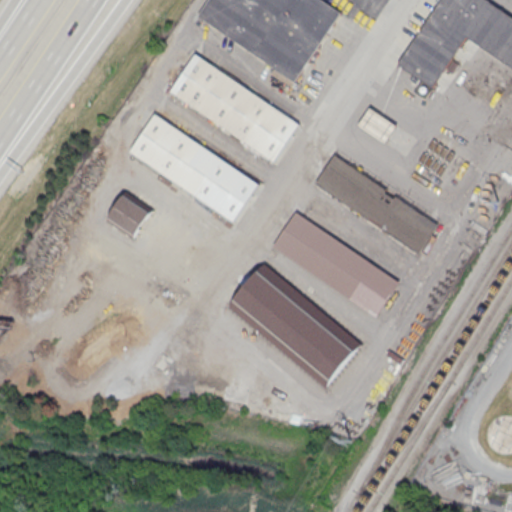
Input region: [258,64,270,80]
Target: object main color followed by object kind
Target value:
white vehicle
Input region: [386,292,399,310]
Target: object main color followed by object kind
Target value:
yellow vehicle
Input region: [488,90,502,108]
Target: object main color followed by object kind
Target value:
yellow vehicle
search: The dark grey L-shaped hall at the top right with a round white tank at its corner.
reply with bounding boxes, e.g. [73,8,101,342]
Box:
[398,0,512,88]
